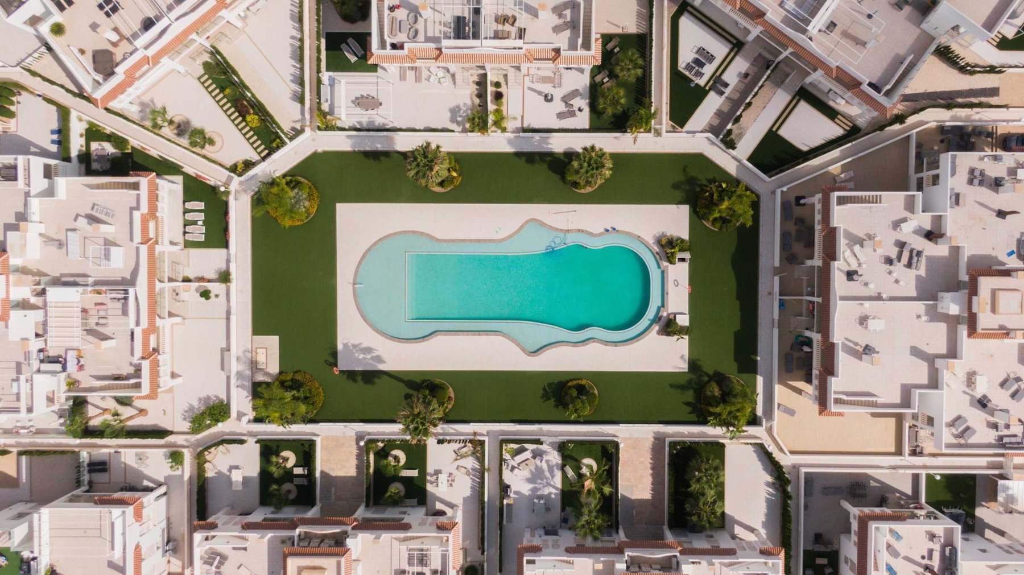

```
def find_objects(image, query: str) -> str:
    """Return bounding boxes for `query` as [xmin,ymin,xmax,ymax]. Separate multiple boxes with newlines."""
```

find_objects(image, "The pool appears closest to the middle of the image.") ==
[353,218,668,357]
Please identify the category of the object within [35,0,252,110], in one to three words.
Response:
house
